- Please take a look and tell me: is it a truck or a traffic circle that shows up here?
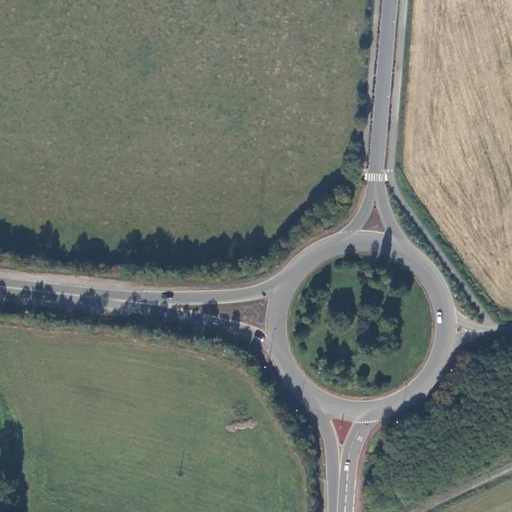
traffic circle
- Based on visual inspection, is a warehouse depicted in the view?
No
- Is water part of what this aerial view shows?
No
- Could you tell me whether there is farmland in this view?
Yes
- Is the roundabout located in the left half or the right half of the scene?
right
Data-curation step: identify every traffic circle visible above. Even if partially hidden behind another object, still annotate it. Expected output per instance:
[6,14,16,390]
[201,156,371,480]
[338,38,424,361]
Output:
[266,230,456,422]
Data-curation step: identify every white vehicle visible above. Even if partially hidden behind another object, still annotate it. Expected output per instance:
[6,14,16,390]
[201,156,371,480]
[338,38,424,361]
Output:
[344,460,350,472]
[436,312,442,324]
